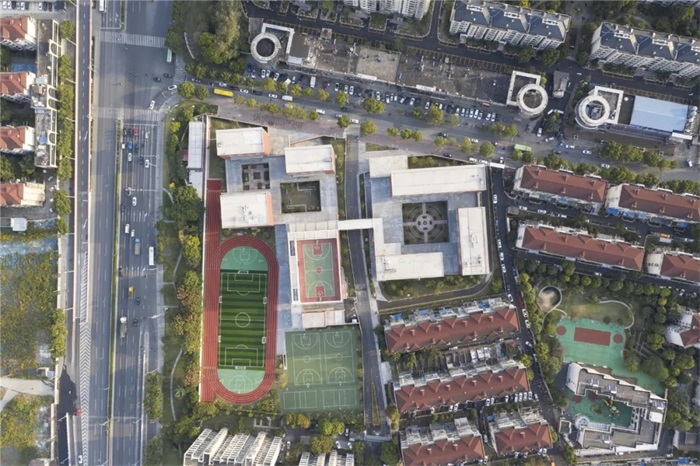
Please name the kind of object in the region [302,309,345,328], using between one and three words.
building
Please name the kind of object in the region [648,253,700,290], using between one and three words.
house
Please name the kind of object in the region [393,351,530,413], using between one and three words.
house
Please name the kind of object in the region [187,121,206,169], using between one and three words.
shed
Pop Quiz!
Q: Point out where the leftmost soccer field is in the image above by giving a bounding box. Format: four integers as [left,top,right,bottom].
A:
[217,271,267,367]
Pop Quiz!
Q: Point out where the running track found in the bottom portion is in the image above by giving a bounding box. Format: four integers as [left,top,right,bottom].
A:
[202,180,278,403]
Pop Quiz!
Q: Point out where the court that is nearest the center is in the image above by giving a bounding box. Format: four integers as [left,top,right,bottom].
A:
[297,238,340,303]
